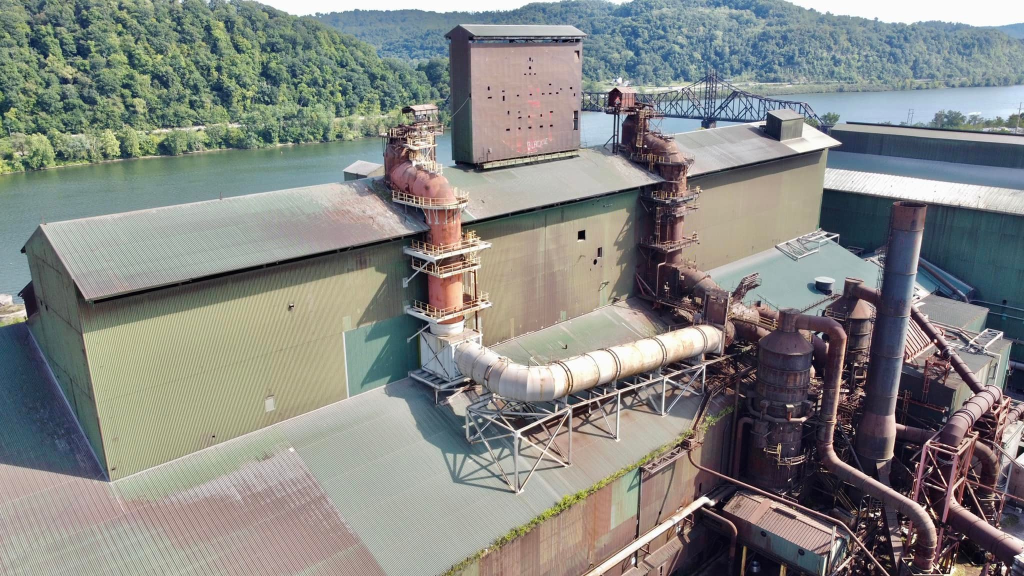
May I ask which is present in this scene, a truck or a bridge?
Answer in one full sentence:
Of the two, only a bridge appears.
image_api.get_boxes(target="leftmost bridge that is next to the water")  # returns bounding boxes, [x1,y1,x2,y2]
[581,70,837,135]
